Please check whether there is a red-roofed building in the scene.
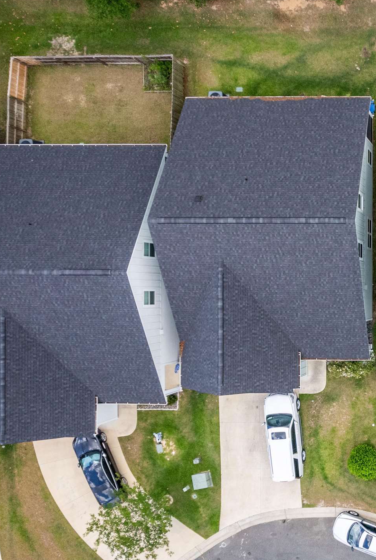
No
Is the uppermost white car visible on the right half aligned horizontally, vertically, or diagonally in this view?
vertically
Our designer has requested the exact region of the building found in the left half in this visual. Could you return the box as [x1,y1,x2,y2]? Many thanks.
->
[0,142,182,445]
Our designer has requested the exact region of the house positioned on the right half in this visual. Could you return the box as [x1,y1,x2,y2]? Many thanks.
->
[148,95,375,397]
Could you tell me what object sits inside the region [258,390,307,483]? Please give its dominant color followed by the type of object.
white car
